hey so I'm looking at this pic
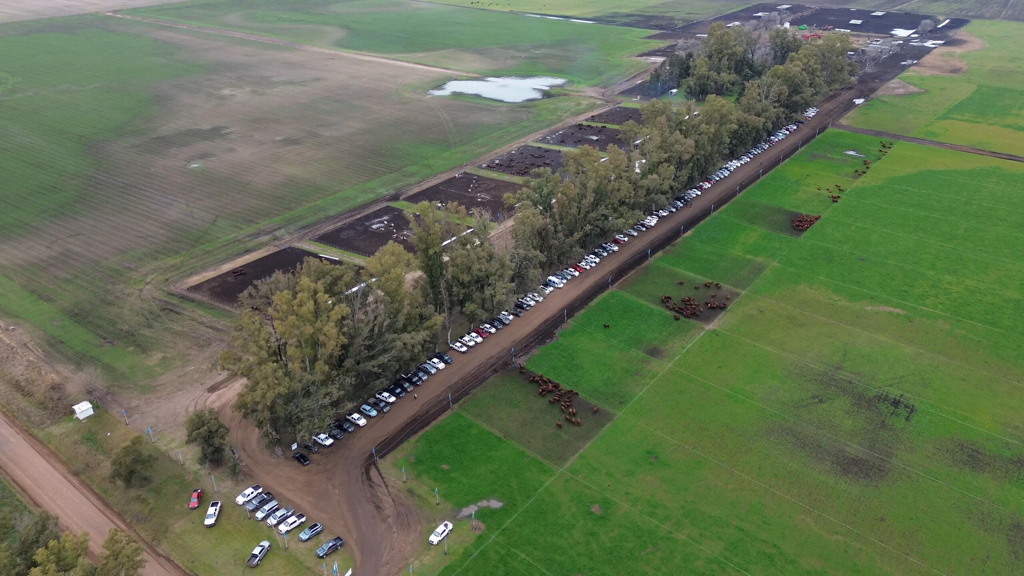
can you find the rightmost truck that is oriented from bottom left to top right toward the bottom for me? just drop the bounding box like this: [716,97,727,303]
[431,520,453,545]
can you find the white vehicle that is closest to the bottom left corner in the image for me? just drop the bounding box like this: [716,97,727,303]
[204,501,221,525]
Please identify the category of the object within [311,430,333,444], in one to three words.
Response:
vehicle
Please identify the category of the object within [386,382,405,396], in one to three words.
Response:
vehicle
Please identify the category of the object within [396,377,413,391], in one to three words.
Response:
car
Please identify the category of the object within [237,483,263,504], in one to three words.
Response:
truck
